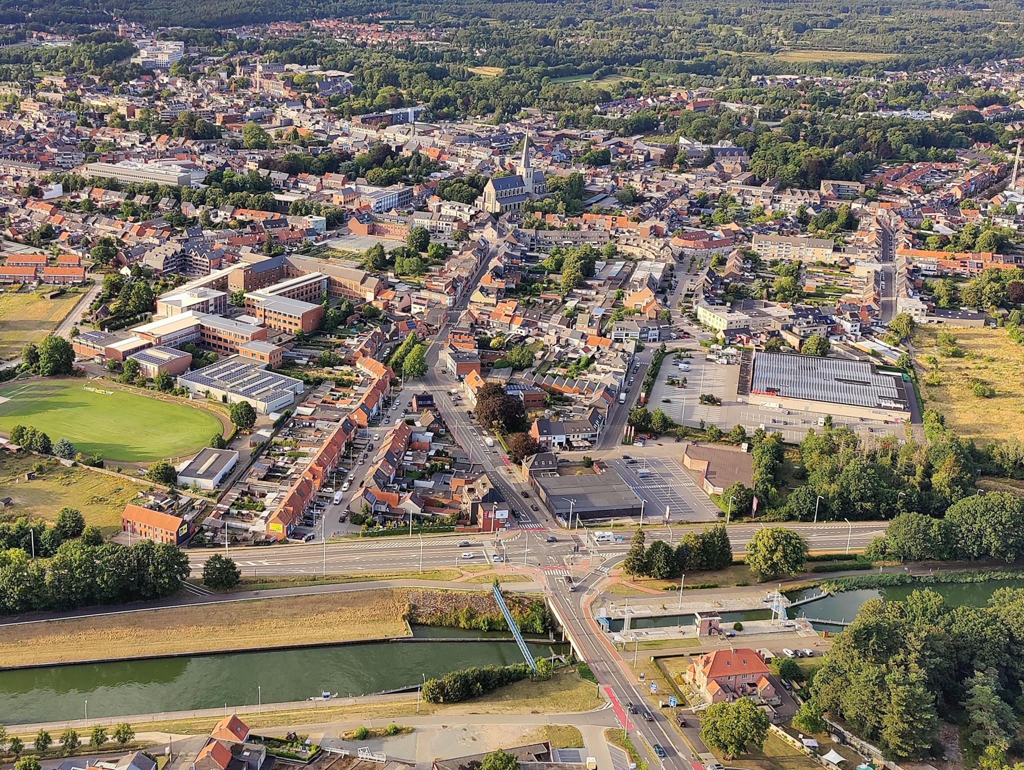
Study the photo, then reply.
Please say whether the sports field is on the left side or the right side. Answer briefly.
left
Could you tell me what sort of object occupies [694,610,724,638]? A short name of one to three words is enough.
building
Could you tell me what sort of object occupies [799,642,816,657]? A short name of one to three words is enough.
vehicle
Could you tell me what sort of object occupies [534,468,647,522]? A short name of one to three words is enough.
building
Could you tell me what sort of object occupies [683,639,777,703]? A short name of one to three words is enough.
house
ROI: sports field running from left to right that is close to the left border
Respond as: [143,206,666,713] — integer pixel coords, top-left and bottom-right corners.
[0,379,223,461]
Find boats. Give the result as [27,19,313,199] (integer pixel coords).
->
[308,688,340,701]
